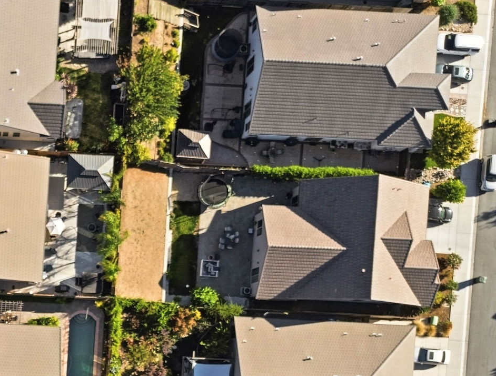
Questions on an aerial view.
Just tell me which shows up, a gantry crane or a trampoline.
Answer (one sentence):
The one in the frame is a trampoline.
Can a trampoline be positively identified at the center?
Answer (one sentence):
Yes, the scene does show a trampoline at the center.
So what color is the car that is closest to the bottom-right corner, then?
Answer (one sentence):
The color of the car that is closest to the bottom-right corner is white.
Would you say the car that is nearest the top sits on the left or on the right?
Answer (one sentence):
It is on the right.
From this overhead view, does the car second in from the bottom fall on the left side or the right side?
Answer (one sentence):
The car second in from the bottom sits on the right side.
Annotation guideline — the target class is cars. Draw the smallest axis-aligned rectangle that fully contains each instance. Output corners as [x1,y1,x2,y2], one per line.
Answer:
[425,203,458,223]
[477,155,496,194]
[438,32,484,57]
[414,347,452,367]
[437,61,475,85]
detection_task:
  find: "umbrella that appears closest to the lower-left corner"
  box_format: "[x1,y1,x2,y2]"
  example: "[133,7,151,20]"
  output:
[45,218,64,237]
